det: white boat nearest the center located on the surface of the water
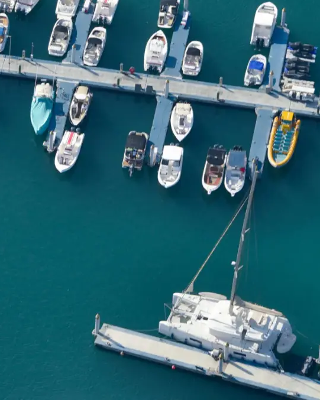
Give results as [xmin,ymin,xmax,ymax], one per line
[158,141,183,191]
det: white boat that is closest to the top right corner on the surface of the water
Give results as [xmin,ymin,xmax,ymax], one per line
[250,2,277,51]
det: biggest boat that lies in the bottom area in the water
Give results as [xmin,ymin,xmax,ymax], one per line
[160,183,293,367]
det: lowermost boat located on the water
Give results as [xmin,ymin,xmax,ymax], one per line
[298,354,314,378]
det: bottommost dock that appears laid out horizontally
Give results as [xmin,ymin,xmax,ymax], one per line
[218,359,320,400]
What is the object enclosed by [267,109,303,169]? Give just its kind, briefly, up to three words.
boat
